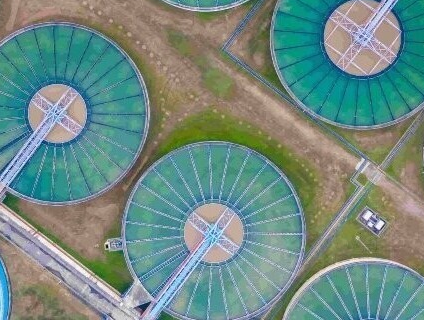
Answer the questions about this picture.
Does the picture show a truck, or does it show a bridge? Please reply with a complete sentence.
It is a bridge that can be seen here.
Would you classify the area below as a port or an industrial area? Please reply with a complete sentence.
This looks like an industrial area.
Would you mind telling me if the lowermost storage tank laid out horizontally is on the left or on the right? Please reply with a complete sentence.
It is on the right.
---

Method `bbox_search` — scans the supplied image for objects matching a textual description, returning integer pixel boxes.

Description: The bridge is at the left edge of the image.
[0,111,59,200]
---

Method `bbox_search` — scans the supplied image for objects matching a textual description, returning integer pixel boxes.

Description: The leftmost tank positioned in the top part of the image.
[0,20,150,206]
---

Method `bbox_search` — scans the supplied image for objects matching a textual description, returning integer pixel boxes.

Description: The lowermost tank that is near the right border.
[281,258,424,320]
